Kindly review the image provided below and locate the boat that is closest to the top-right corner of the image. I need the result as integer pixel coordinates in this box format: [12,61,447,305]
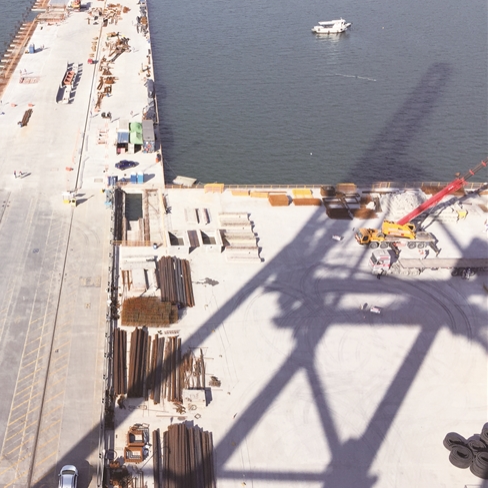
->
[313,17,354,34]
